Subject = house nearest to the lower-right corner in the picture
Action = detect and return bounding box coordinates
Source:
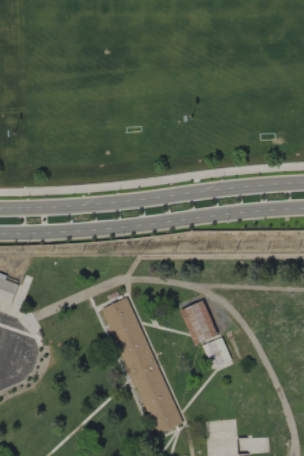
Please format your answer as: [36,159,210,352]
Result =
[202,338,233,369]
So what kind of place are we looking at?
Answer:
sports ground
